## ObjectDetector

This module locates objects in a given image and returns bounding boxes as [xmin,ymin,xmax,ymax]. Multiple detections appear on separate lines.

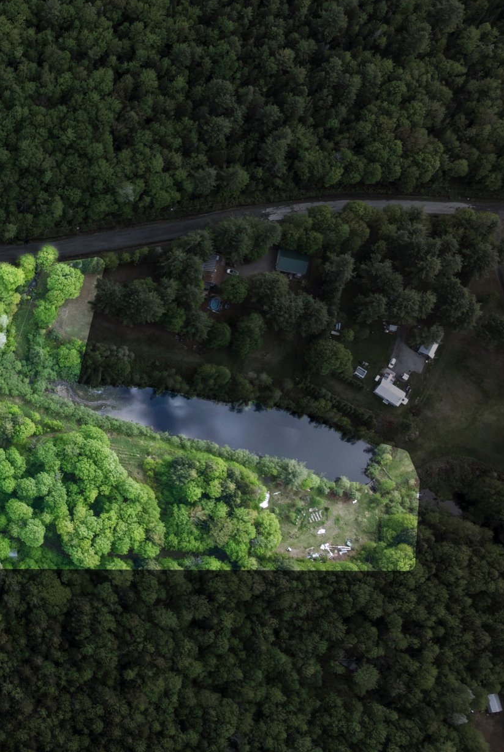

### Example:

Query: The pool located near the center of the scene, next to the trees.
[207,297,222,314]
